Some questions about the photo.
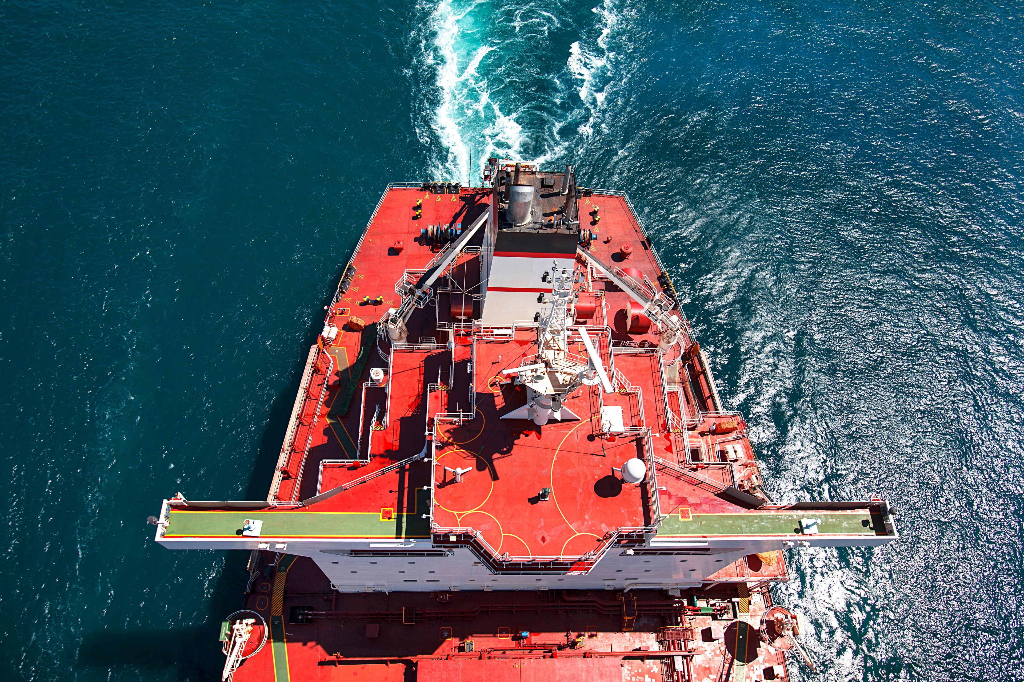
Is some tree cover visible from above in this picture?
No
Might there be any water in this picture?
Yes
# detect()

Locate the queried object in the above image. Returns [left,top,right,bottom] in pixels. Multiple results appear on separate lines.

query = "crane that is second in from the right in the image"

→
[575,236,699,366]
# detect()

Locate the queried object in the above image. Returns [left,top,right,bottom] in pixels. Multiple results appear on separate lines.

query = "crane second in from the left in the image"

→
[368,196,490,354]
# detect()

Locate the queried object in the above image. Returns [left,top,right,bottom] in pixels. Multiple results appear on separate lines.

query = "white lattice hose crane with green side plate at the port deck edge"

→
[220,618,256,682]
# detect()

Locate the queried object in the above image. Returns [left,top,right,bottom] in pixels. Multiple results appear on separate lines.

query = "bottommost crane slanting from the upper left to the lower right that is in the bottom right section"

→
[772,612,816,677]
